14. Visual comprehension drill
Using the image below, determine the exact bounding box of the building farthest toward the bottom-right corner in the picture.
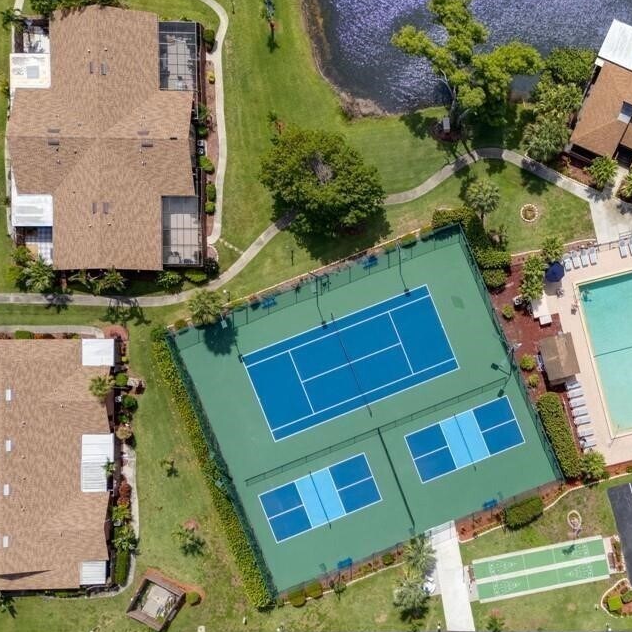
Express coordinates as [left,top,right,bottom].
[540,333,580,384]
